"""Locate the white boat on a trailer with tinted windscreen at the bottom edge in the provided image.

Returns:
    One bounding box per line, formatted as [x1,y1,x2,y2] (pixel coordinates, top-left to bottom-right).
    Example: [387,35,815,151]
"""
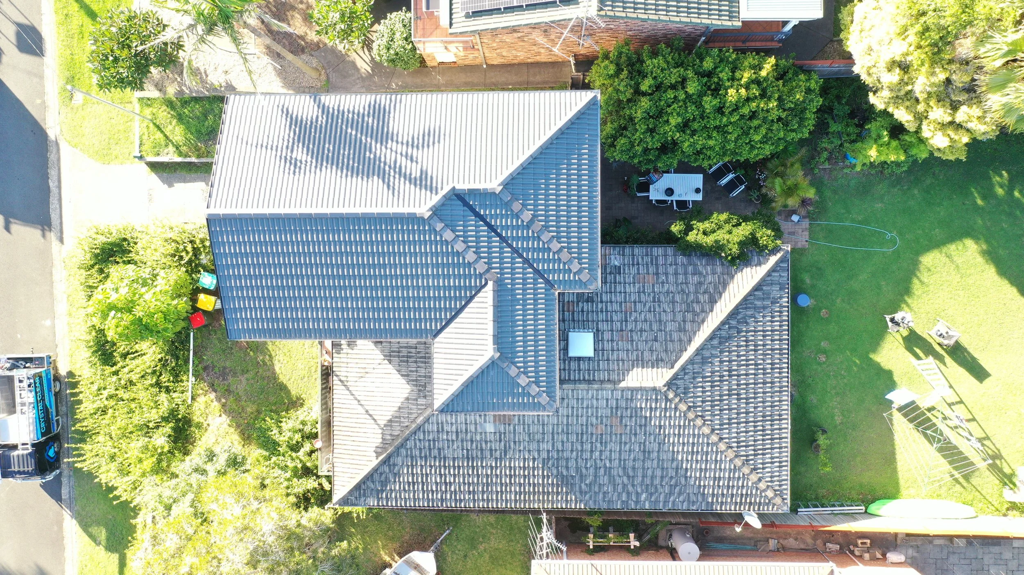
[378,526,453,575]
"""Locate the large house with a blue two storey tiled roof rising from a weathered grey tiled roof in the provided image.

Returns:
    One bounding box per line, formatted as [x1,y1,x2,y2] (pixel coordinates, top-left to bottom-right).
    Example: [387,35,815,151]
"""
[200,88,792,515]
